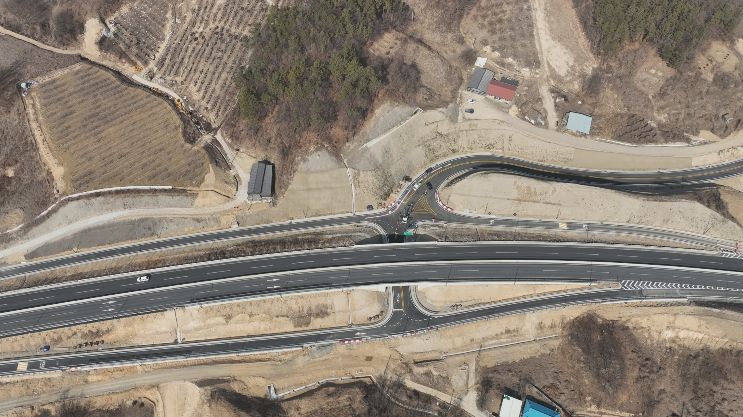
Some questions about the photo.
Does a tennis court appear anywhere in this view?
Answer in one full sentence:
No, no tennis court can be seen from above.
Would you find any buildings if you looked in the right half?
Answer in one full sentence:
Yes, looking in the right half, one can make out a building.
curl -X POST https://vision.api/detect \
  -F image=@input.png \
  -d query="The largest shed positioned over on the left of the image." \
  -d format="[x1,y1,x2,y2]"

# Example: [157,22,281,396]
[247,162,274,202]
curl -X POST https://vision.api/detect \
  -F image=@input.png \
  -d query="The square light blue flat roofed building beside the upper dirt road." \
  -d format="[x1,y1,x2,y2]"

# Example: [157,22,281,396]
[565,112,591,137]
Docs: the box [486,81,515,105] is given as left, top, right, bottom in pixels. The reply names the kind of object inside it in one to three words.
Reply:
house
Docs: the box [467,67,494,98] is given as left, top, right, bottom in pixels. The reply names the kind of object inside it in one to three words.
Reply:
house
